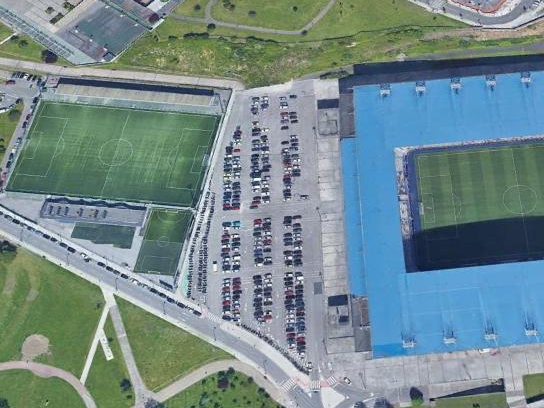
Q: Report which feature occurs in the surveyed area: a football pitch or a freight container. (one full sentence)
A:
There is a football pitch in the scene.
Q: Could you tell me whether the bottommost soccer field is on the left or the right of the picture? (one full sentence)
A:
It is on the left.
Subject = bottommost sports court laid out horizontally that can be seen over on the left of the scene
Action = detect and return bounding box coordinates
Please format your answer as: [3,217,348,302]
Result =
[70,224,135,249]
